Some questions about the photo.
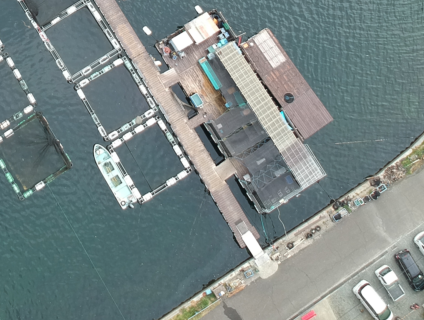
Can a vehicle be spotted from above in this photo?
Yes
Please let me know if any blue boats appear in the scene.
No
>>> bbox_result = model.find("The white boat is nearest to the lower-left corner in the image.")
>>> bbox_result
[96,144,136,209]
